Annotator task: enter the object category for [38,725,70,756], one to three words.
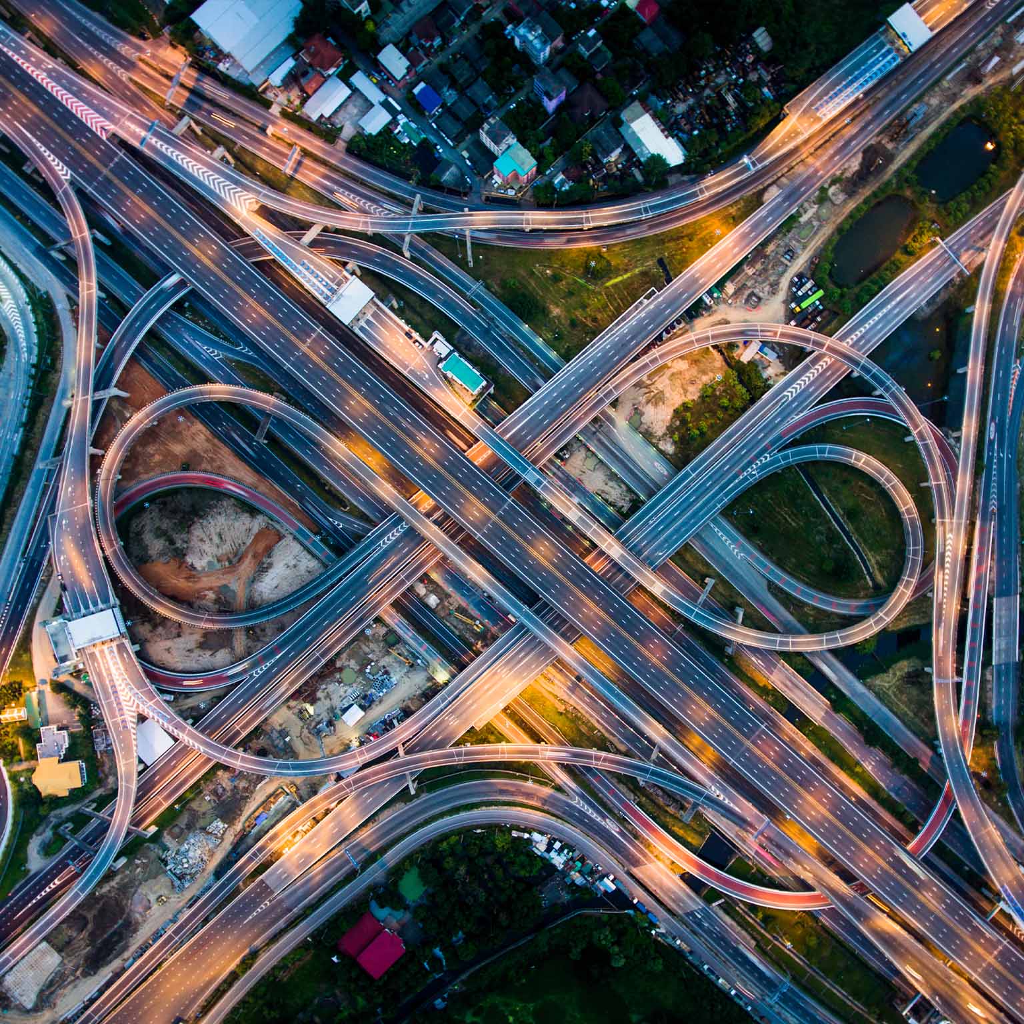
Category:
house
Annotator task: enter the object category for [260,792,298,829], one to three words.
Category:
shed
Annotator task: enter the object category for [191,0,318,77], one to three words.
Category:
building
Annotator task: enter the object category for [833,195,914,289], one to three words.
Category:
pond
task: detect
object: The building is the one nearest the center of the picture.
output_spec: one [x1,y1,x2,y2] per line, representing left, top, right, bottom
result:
[428,335,493,397]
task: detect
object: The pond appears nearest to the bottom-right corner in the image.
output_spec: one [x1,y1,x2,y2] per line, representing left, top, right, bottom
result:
[781,618,932,723]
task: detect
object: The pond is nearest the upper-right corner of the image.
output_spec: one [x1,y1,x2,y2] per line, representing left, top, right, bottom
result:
[919,117,999,204]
